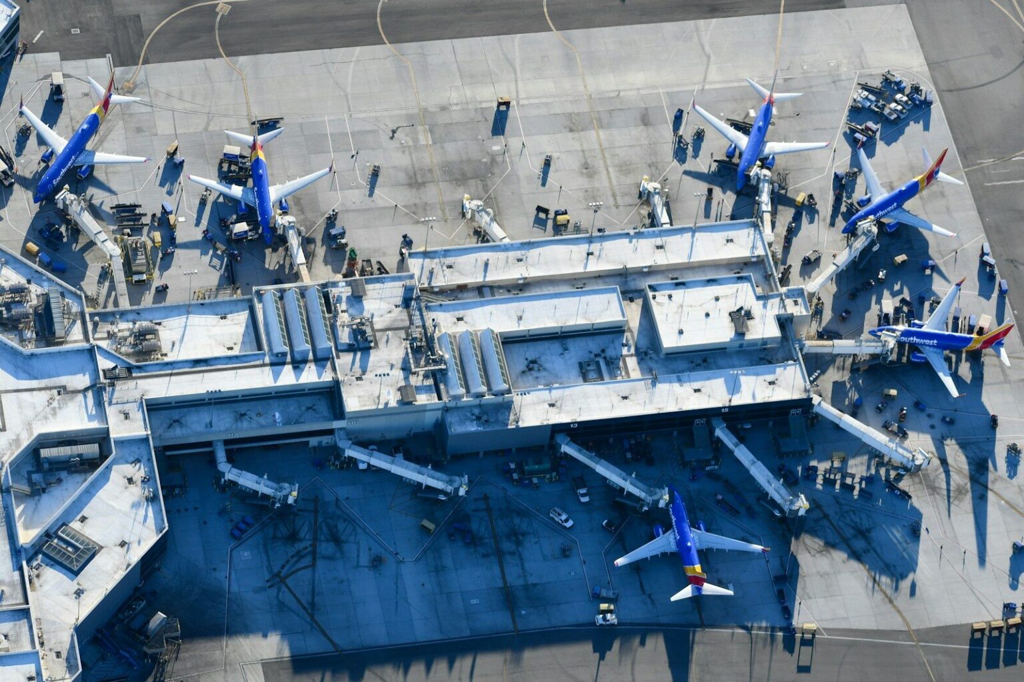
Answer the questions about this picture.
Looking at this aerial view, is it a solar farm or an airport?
airport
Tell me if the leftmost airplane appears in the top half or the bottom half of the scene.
top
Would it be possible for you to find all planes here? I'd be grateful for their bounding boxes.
[614,486,770,604]
[842,138,962,237]
[693,70,833,190]
[185,113,334,245]
[19,70,152,203]
[870,276,1020,397]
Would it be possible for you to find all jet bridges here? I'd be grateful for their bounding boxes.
[804,218,875,309]
[795,334,896,375]
[713,420,815,517]
[554,436,672,509]
[52,188,128,309]
[337,425,472,498]
[632,174,675,229]
[457,193,519,243]
[271,205,310,285]
[214,436,301,512]
[740,169,776,257]
[807,391,937,474]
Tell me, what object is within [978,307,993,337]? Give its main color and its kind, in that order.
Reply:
white vehicle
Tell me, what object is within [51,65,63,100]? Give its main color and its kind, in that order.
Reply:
white vehicle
